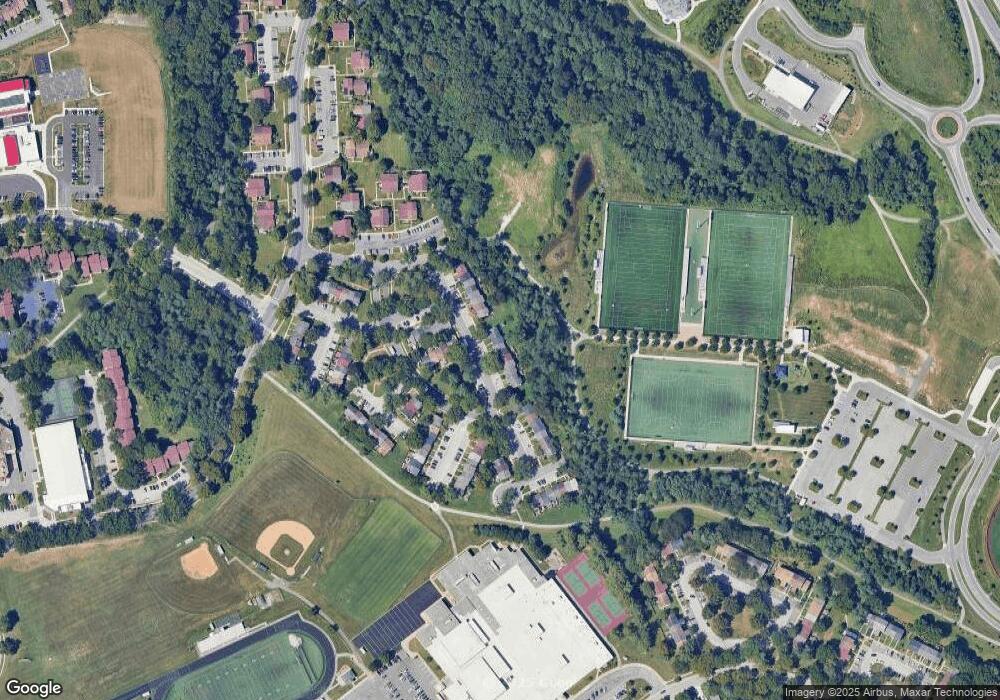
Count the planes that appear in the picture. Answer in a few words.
0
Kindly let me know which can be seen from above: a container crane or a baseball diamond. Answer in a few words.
baseball diamond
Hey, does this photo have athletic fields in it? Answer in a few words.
Yes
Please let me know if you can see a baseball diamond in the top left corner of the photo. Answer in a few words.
No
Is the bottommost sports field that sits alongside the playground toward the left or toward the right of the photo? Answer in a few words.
right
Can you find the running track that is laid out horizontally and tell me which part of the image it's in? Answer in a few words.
bottom left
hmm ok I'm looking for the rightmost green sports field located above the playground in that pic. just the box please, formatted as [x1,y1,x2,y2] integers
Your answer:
[704,210,791,341]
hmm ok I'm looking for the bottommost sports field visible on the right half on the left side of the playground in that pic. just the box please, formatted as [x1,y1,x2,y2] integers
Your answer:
[626,356,757,445]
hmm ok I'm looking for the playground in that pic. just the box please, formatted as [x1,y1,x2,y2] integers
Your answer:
[772,362,810,385]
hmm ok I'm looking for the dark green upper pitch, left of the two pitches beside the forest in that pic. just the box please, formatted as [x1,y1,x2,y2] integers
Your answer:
[601,203,688,334]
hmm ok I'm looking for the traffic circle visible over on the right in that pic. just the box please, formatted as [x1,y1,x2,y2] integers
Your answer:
[928,105,969,146]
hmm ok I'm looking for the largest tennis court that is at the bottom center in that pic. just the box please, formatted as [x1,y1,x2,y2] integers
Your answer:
[558,553,627,635]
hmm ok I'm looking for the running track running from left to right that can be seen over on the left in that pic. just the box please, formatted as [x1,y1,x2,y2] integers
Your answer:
[105,611,336,700]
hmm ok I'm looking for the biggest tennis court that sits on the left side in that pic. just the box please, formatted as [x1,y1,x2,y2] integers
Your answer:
[47,377,80,421]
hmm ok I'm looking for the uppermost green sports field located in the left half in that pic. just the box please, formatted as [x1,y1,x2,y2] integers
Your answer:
[318,497,441,622]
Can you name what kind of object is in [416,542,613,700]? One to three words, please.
building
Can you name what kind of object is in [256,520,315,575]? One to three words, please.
baseball field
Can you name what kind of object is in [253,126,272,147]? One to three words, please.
house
